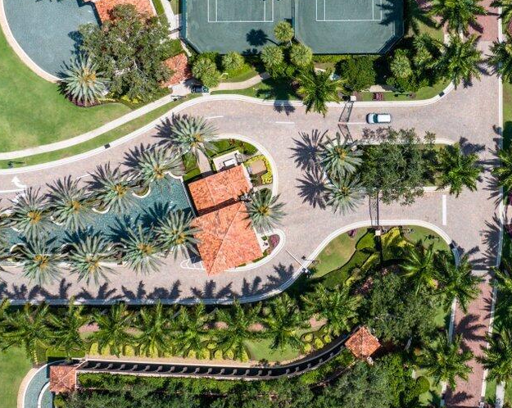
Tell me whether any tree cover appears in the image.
Yes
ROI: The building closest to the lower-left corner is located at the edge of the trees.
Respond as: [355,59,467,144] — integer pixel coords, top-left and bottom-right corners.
[49,361,84,393]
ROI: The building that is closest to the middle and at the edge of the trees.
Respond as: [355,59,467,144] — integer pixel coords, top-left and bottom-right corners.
[188,164,263,275]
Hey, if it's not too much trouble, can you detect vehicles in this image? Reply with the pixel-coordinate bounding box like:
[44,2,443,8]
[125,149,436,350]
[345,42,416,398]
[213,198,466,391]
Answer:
[366,112,392,125]
[193,85,208,93]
